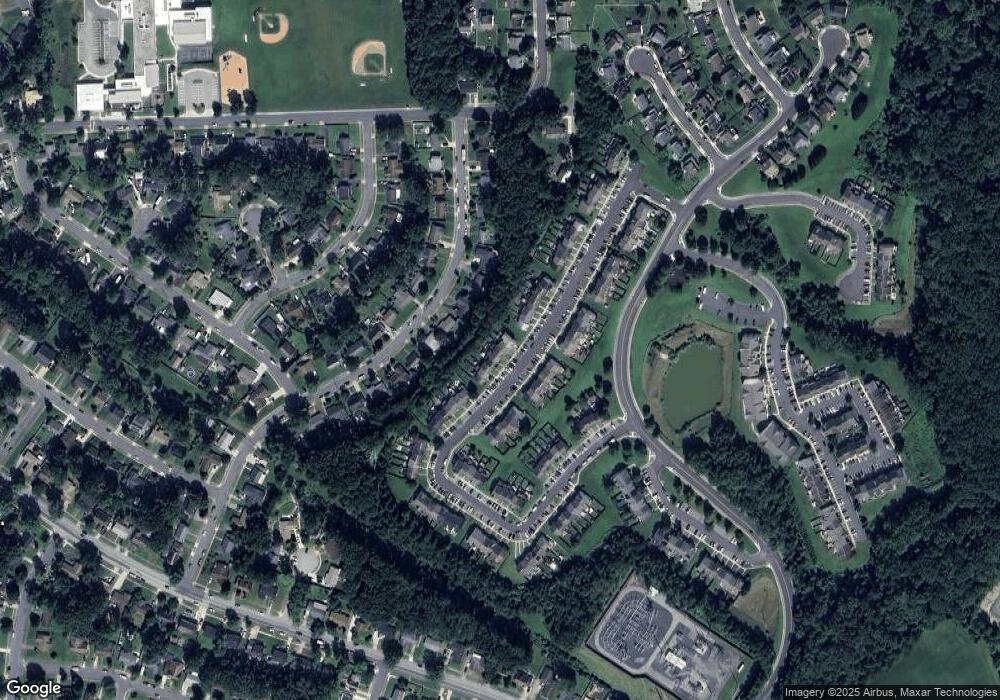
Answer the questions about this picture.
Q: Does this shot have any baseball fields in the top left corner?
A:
Yes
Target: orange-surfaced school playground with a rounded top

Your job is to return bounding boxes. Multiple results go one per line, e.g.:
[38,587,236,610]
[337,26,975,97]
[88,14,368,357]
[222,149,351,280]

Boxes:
[219,51,249,105]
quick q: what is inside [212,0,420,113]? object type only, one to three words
sports field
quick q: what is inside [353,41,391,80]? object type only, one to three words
baseball field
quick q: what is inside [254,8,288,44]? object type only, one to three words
baseball field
